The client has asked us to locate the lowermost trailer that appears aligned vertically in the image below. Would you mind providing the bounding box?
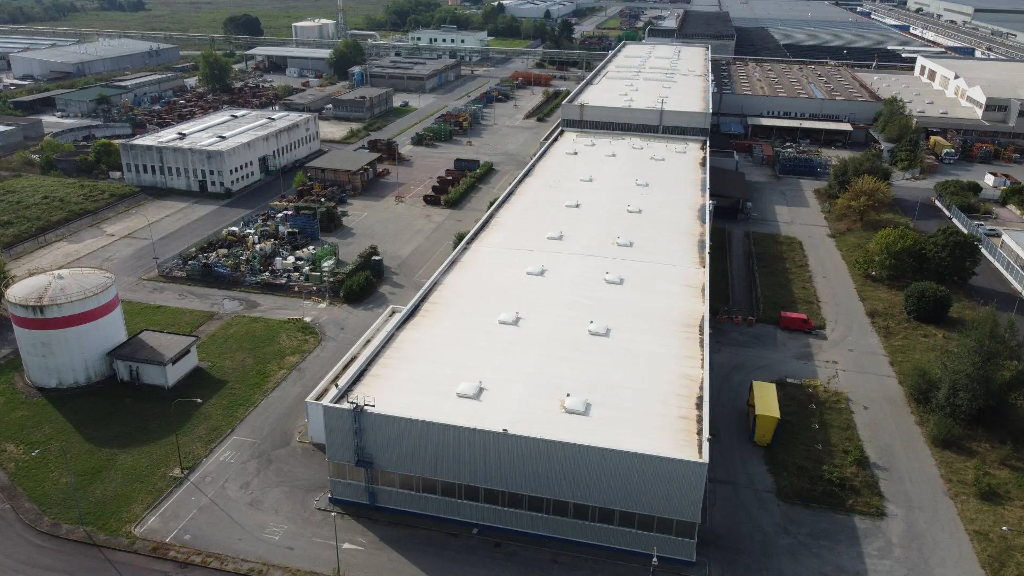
[750,381,781,440]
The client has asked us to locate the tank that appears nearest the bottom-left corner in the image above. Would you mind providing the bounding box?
[0,260,130,395]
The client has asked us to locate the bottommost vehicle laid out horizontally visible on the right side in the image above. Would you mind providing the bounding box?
[780,312,818,332]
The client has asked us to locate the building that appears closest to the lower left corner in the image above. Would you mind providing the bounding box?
[109,329,202,387]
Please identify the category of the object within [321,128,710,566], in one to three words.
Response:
building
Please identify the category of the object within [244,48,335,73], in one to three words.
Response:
building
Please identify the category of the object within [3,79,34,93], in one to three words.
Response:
shed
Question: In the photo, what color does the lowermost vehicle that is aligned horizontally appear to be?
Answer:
red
